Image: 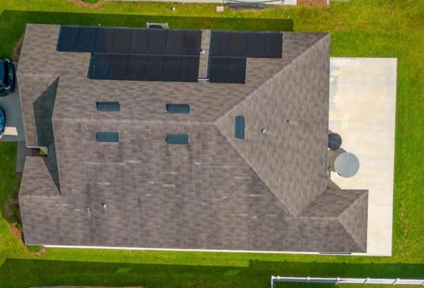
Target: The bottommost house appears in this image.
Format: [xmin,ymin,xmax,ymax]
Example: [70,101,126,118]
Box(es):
[16,25,368,258]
